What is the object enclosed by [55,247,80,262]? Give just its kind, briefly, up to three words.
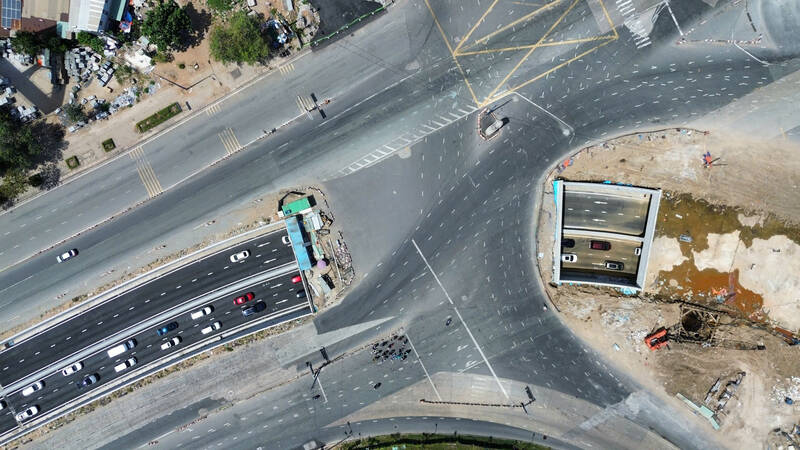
car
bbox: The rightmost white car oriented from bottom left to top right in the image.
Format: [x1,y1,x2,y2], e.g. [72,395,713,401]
[486,118,505,135]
